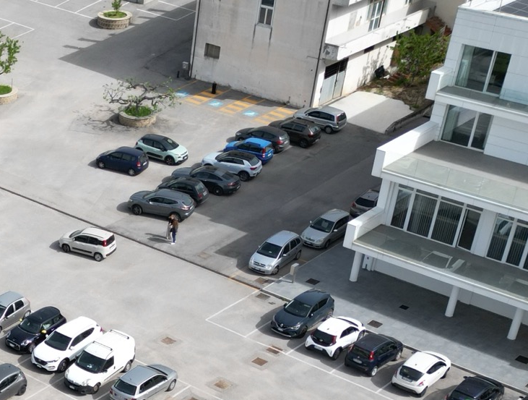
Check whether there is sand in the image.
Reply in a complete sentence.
No, no sand is visible.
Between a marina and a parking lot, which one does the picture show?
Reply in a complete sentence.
The picture captures a parking lot.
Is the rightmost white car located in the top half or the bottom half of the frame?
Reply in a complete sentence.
Seen from above, the rightmost white car lies in the bottom half of the view.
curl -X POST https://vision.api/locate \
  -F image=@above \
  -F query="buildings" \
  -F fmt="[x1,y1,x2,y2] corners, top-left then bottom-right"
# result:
[193,0,466,108]
[346,0,528,339]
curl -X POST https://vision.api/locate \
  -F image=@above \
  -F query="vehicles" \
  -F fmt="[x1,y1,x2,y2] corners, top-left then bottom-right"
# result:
[249,227,306,273]
[97,146,151,175]
[288,104,346,136]
[0,288,35,332]
[134,131,191,165]
[62,327,139,393]
[263,119,324,150]
[134,185,200,220]
[307,314,368,359]
[0,359,29,400]
[202,151,262,183]
[6,303,70,351]
[302,202,358,246]
[60,225,120,262]
[106,360,182,400]
[443,372,504,400]
[239,130,298,160]
[273,285,336,336]
[147,176,206,203]
[171,164,238,198]
[32,315,104,372]
[343,330,403,376]
[391,349,454,397]
[223,140,276,168]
